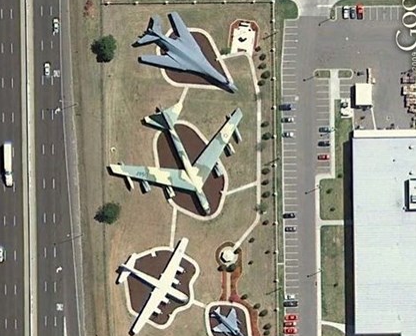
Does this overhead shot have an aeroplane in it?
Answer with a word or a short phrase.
Yes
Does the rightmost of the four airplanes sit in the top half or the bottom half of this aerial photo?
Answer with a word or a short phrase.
bottom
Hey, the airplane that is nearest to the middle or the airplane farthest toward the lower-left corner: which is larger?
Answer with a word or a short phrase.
the airplane that is nearest to the middle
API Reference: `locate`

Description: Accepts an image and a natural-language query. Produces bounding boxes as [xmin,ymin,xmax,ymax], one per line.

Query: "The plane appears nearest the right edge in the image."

[206,306,242,336]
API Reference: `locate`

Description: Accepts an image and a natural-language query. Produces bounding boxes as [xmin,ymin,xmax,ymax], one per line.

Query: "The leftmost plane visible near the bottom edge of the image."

[120,235,190,334]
